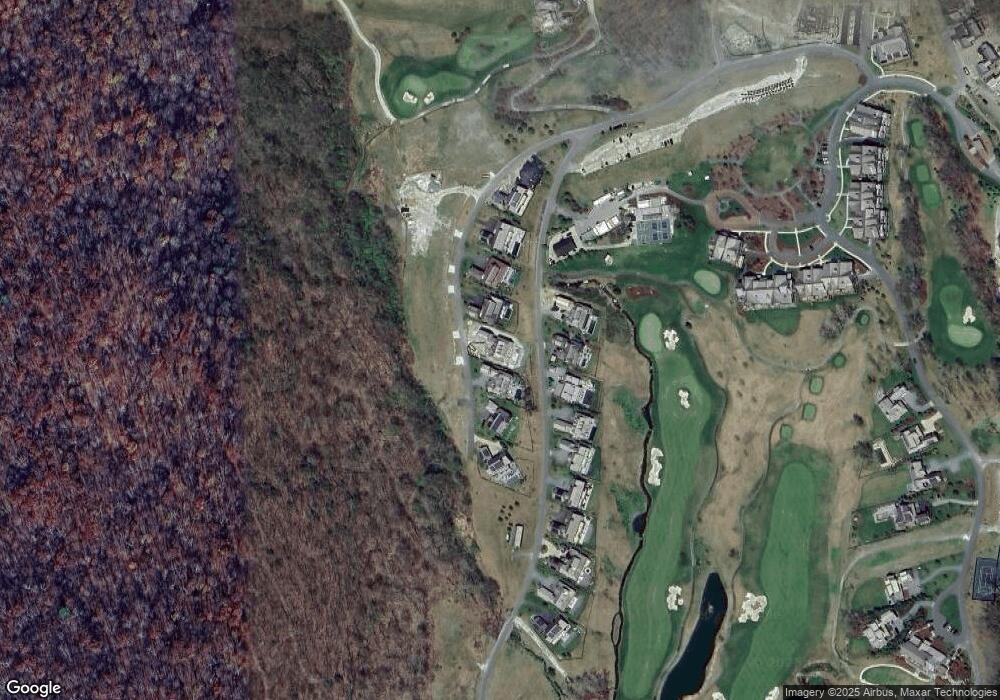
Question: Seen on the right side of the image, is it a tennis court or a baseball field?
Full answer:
It is a tennis court that can be seen on the right side of the image.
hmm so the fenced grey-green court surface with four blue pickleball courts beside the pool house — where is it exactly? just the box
[634,219,674,244]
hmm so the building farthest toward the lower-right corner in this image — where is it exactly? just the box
[900,635,951,680]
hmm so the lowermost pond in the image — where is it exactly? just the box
[659,571,728,700]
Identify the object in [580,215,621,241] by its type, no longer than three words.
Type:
building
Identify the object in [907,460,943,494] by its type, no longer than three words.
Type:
house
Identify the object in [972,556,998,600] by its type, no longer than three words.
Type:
tennis court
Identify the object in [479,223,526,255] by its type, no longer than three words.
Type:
house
